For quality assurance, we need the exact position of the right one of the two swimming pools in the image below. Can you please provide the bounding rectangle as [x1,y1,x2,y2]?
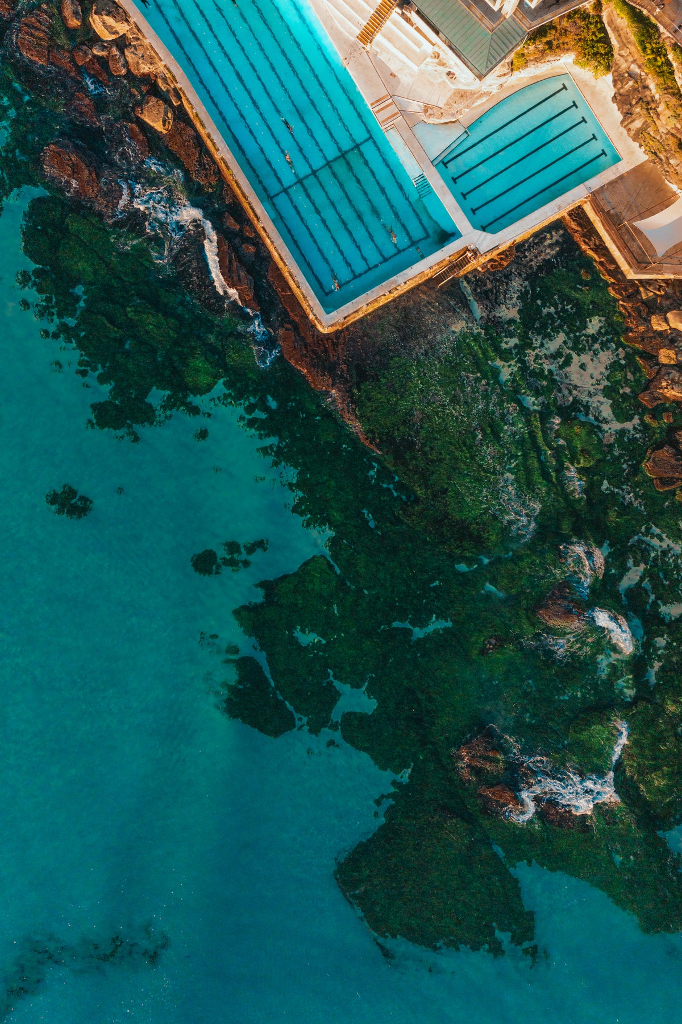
[398,59,648,261]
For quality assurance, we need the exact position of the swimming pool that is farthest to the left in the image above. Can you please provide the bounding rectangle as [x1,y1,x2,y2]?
[115,0,471,334]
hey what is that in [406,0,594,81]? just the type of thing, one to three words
building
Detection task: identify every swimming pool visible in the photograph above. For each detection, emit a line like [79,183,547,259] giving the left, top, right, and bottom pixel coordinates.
[115,0,471,334]
[398,59,648,261]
